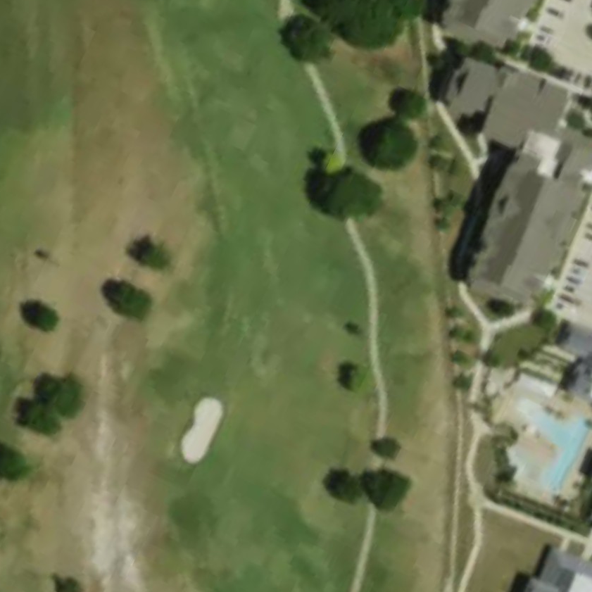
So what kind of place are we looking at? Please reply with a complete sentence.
The area seen from above is a golf course.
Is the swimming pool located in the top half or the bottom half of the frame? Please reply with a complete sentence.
The bottom half of the photo is where the swimming pool is.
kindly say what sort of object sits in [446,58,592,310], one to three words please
building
